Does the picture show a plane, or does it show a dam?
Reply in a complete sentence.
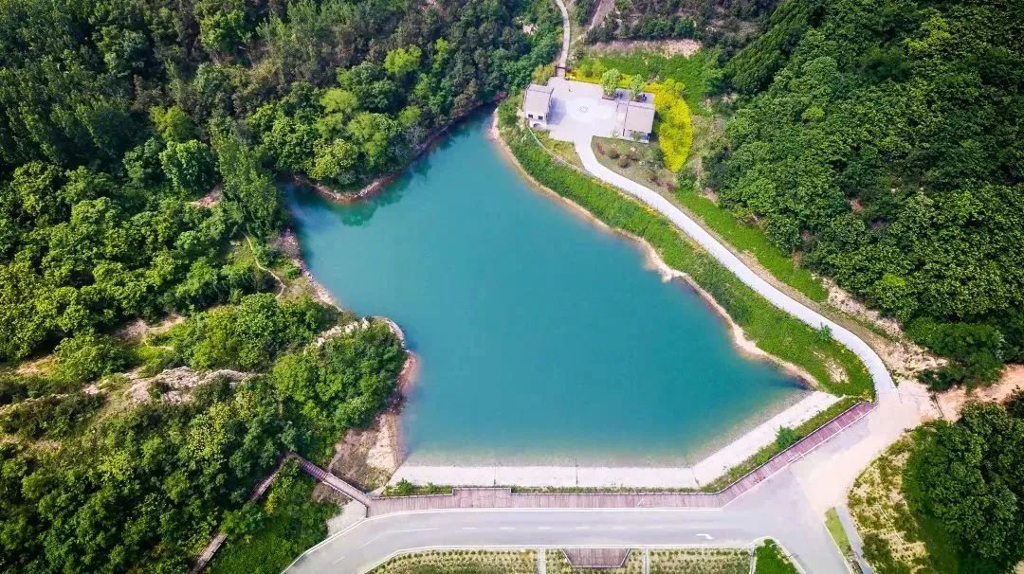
Looking from above, you can make out a dam.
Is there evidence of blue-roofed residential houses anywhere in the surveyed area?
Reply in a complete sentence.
No, the scene contains no blue-roofed residential house.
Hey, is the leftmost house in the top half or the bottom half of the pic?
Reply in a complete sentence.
You can find the leftmost house in the top half.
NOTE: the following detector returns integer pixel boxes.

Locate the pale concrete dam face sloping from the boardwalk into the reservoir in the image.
[372,392,844,487]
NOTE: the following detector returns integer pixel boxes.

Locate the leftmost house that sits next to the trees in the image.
[523,85,554,132]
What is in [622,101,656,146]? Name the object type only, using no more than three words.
building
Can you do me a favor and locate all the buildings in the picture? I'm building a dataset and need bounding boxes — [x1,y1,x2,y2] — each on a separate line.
[622,101,656,146]
[523,85,554,132]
